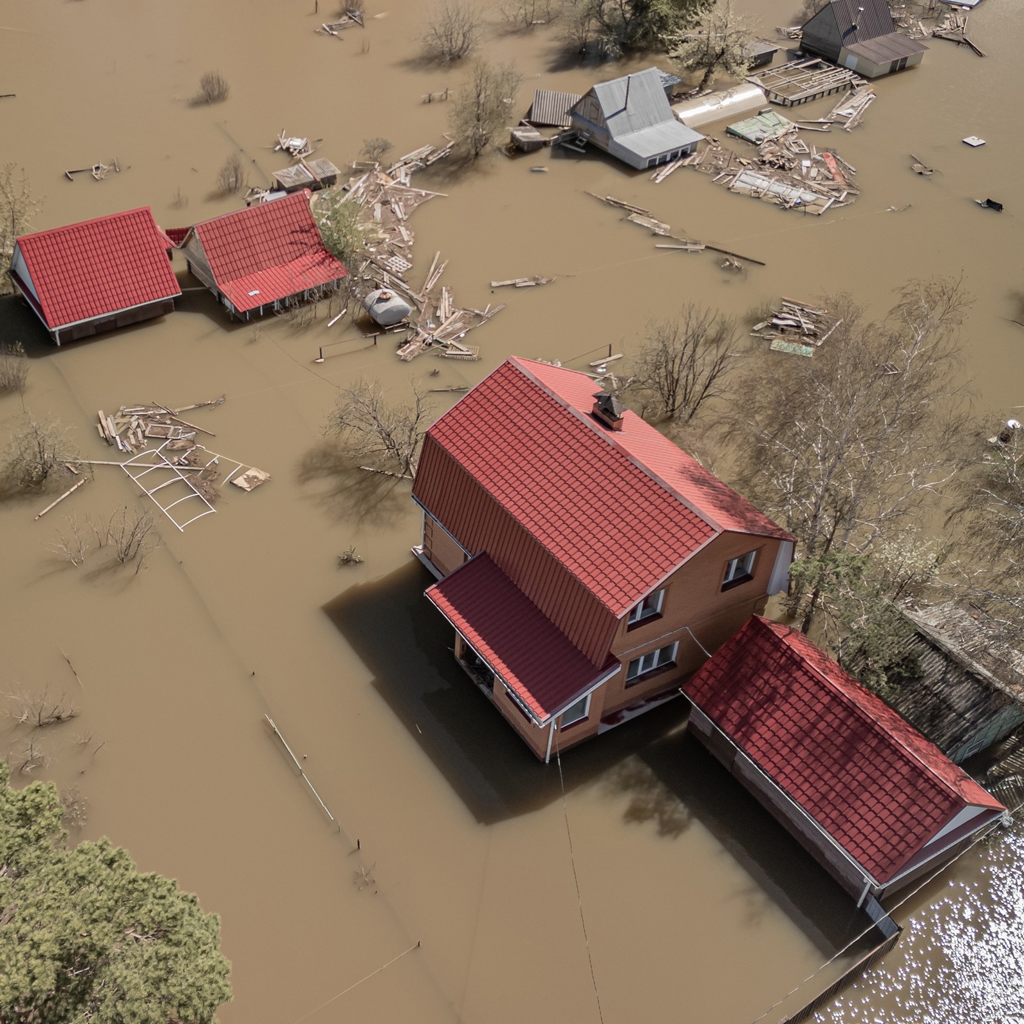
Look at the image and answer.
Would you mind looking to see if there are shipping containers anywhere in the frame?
No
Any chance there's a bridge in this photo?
No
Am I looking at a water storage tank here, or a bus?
water storage tank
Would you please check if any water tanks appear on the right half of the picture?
No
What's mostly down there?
water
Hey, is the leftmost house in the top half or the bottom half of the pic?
top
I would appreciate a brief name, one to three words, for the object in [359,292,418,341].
water tank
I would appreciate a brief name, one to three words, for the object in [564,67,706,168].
house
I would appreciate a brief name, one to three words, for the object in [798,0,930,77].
house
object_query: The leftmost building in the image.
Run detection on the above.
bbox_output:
[8,205,185,345]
